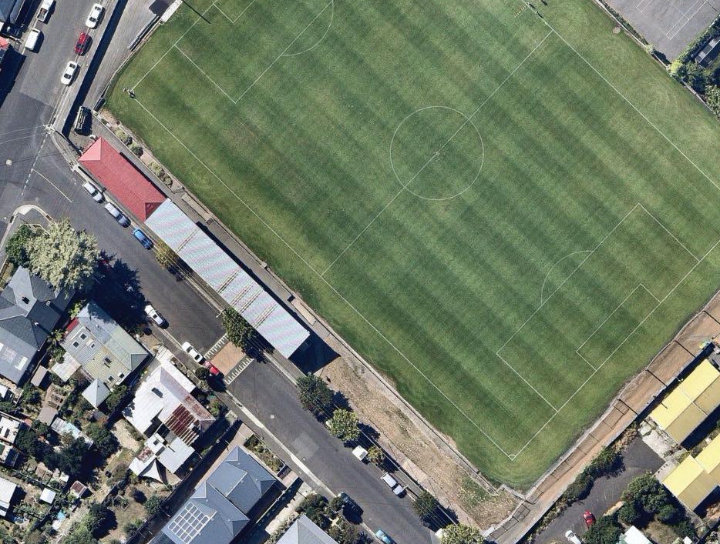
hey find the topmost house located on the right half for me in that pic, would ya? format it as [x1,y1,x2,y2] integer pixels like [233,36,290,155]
[651,359,720,445]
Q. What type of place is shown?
sports ground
